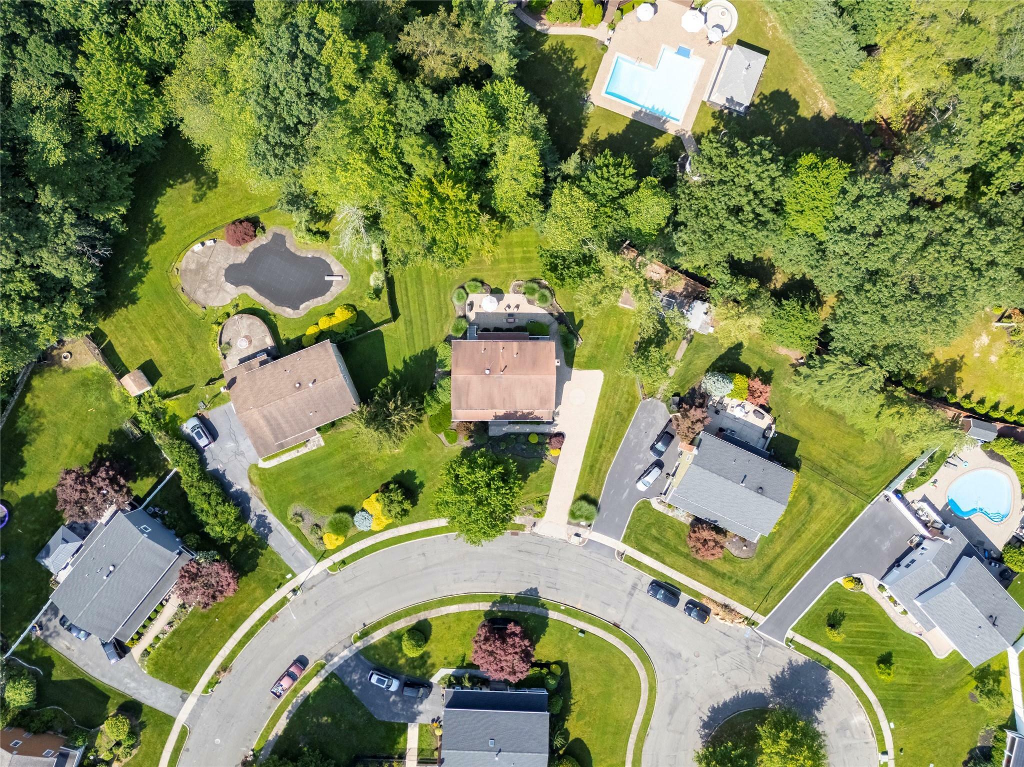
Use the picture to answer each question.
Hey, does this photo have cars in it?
Yes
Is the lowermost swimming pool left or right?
right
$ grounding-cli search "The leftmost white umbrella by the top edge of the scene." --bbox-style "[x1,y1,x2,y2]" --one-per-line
[637,5,653,23]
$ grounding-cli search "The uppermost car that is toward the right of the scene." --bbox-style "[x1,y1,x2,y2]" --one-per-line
[649,427,676,460]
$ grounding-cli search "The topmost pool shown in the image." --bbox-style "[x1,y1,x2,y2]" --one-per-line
[603,43,706,123]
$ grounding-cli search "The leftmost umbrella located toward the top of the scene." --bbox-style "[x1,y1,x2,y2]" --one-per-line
[482,296,498,312]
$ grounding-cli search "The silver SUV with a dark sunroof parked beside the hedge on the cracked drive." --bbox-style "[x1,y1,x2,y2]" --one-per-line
[186,417,214,450]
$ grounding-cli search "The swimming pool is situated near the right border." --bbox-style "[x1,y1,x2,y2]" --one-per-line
[946,468,1015,524]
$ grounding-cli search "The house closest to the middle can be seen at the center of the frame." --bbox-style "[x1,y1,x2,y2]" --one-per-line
[451,325,561,426]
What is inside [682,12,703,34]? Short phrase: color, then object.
white umbrella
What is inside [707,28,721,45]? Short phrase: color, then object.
white umbrella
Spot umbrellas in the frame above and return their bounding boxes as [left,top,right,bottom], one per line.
[637,5,653,23]
[733,405,745,417]
[682,12,703,34]
[707,28,721,45]
[482,296,498,312]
